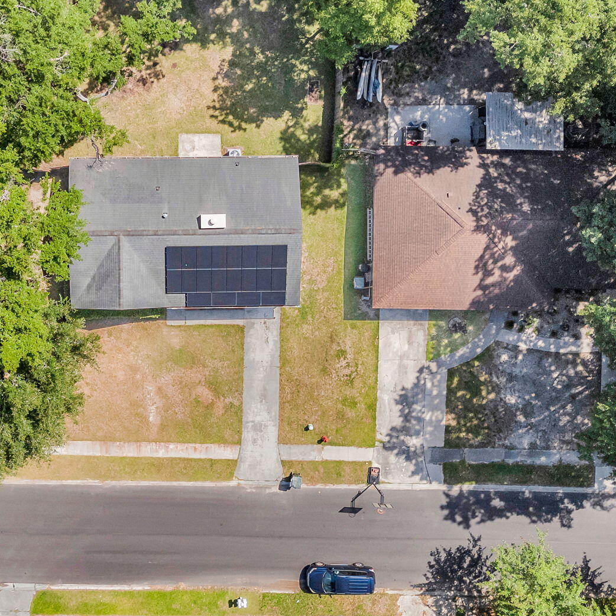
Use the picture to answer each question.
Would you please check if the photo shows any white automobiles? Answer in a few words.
No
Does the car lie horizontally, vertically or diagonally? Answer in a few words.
horizontally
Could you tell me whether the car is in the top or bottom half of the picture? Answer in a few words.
bottom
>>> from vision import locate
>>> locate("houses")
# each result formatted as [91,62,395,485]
[66,156,303,311]
[370,145,616,310]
